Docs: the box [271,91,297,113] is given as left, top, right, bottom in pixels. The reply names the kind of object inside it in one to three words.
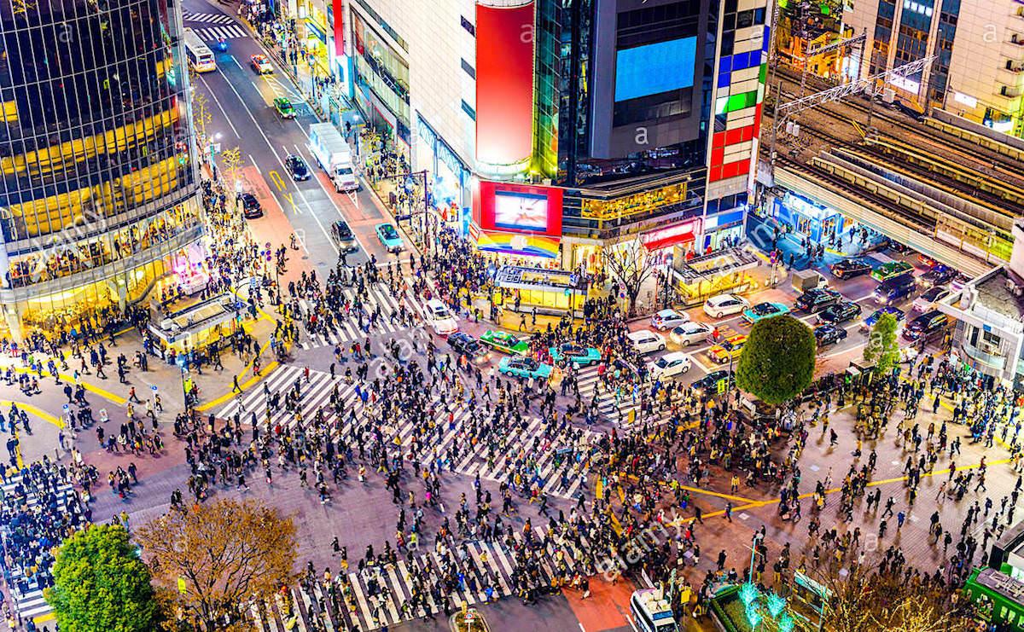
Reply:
car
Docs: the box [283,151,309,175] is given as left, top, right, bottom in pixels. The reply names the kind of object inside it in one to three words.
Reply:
car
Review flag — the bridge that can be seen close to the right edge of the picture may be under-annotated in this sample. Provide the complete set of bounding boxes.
[757,83,1024,283]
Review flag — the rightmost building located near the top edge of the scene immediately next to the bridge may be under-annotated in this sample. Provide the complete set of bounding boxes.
[847,0,1024,161]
